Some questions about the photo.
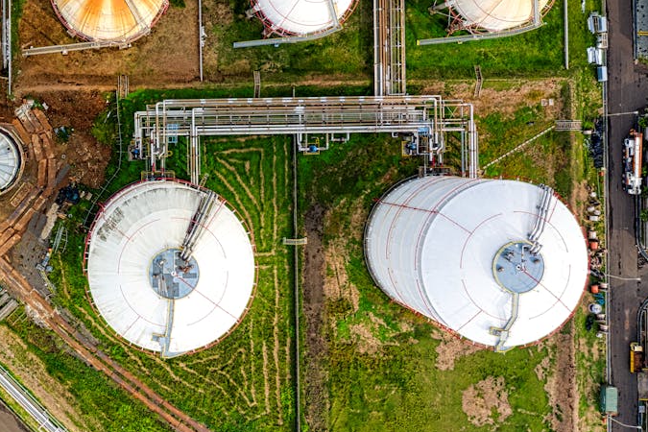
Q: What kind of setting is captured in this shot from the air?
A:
industrial area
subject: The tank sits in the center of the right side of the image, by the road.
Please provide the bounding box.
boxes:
[360,170,594,353]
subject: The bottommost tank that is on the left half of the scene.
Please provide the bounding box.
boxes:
[84,174,259,356]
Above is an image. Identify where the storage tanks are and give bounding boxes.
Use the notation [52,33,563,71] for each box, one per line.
[22,0,168,55]
[84,174,259,356]
[0,122,29,197]
[418,0,559,46]
[234,0,361,50]
[360,170,594,353]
